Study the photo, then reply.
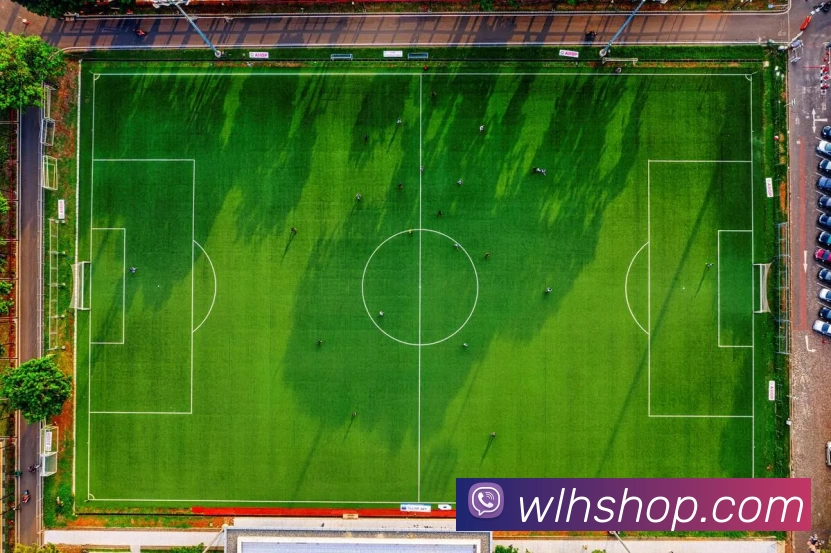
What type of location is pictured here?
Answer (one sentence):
This image shows a sports ground.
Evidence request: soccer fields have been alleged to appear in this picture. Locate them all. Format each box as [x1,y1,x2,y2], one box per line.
[76,63,765,518]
